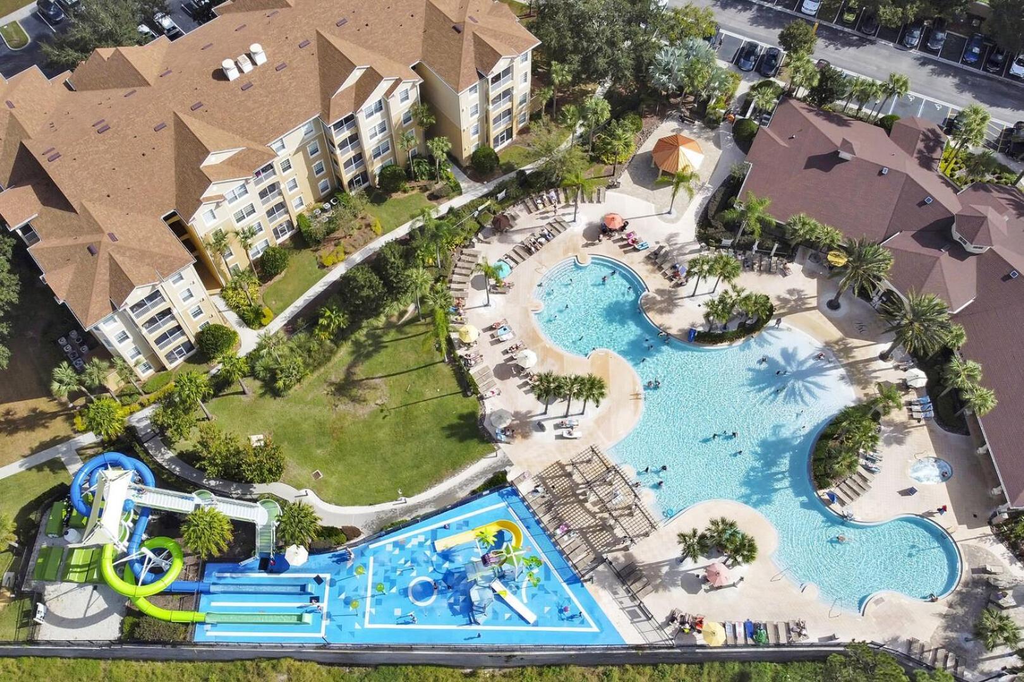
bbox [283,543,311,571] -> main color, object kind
white umbrella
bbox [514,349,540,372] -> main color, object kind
white umbrella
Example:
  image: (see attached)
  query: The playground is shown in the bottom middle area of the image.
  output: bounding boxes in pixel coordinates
[437,517,537,625]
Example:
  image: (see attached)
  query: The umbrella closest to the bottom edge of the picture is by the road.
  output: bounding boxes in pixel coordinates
[698,619,728,650]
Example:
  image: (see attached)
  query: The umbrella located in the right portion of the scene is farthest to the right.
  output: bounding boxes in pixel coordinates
[900,366,929,393]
